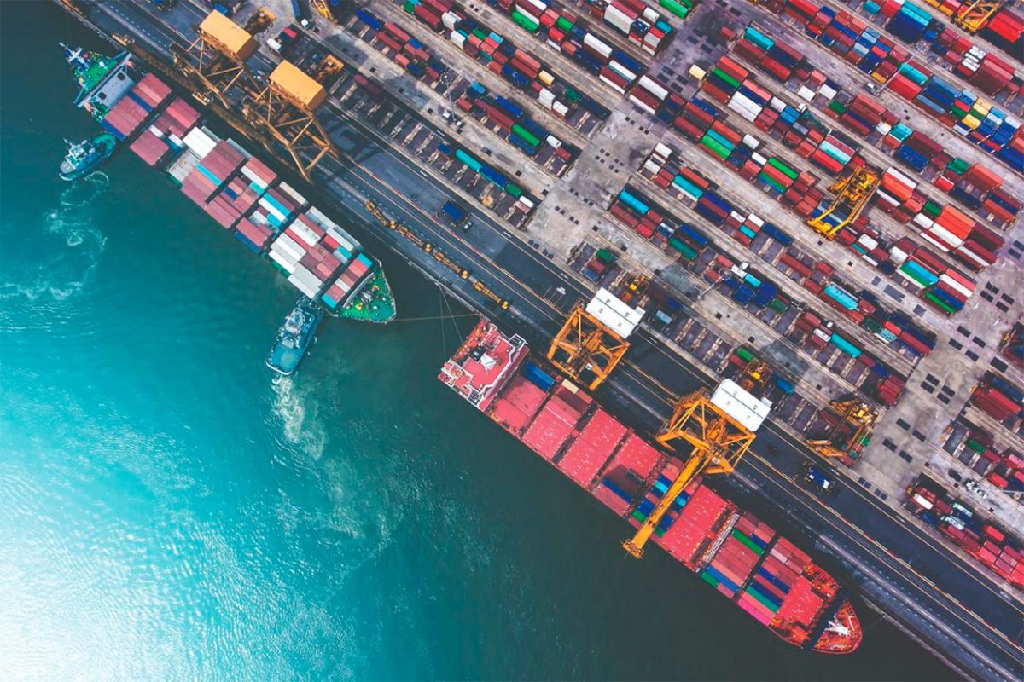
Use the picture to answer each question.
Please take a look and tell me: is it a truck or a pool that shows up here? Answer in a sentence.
There is a truck in the scene.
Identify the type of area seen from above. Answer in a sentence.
It's a port.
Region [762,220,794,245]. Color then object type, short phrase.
blue shipping container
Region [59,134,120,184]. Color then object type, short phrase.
blue boat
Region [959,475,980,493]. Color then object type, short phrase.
white vehicle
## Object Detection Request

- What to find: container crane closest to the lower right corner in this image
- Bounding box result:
[796,392,875,456]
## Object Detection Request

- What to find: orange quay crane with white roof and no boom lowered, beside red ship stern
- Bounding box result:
[542,285,647,395]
